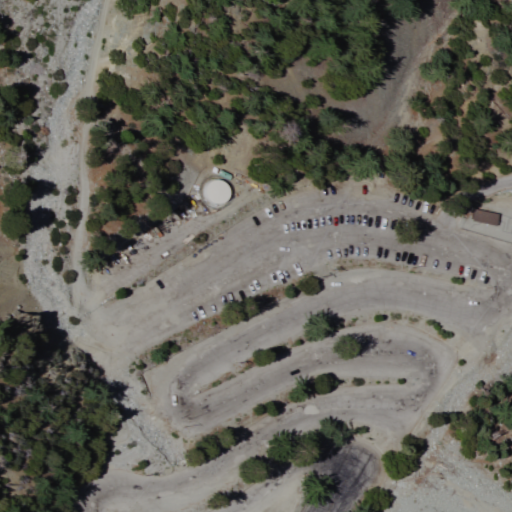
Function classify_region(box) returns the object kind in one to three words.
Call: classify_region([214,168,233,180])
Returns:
vehicle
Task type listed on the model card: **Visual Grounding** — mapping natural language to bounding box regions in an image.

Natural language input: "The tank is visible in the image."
[202,178,232,208]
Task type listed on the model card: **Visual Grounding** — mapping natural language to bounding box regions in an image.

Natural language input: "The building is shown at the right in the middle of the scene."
[473,208,502,226]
